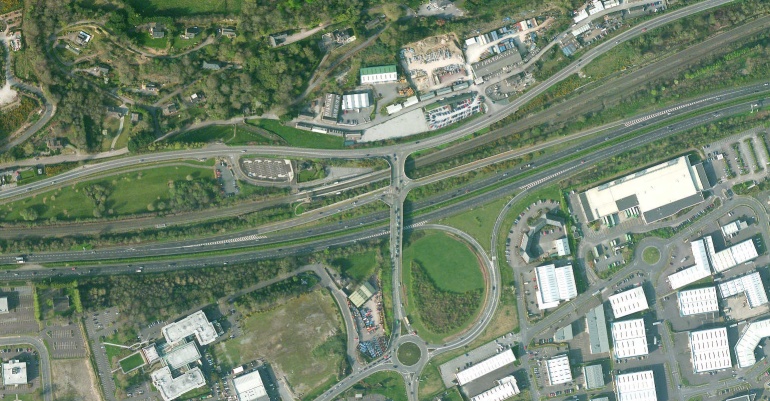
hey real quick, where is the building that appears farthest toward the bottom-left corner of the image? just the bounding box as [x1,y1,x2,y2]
[2,360,27,386]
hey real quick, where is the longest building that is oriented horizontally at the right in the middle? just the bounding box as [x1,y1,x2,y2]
[577,155,703,225]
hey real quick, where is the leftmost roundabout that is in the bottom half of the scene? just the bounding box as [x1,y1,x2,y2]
[391,336,427,372]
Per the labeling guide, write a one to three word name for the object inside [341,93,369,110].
building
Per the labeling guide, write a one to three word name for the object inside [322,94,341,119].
building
